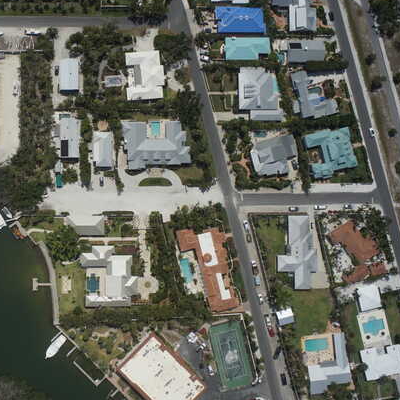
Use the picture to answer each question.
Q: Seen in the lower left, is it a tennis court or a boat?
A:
boat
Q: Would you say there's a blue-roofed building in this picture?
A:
Yes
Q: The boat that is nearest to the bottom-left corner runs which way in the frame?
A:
diagonally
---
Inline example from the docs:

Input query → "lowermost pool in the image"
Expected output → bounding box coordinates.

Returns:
[305,337,330,352]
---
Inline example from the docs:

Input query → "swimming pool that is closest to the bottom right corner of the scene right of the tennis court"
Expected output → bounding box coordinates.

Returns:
[362,317,386,335]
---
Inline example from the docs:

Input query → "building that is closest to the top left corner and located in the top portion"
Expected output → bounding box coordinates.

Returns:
[59,58,79,90]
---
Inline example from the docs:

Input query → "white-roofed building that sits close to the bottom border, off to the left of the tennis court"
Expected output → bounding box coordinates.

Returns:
[117,332,204,400]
